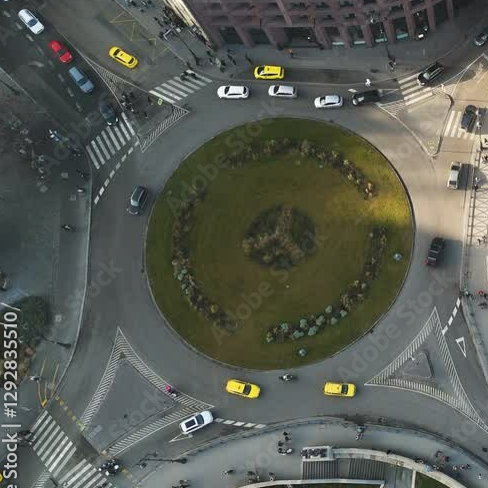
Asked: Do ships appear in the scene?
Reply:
No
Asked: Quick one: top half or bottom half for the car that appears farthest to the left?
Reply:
top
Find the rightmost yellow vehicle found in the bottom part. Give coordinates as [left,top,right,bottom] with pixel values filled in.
[322,382,355,397]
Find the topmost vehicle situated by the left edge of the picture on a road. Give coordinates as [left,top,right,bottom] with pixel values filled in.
[14,5,42,31]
